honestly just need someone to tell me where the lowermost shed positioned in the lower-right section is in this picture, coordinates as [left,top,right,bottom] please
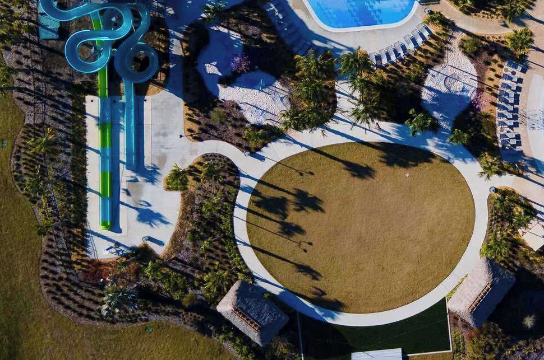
[448,260,515,328]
